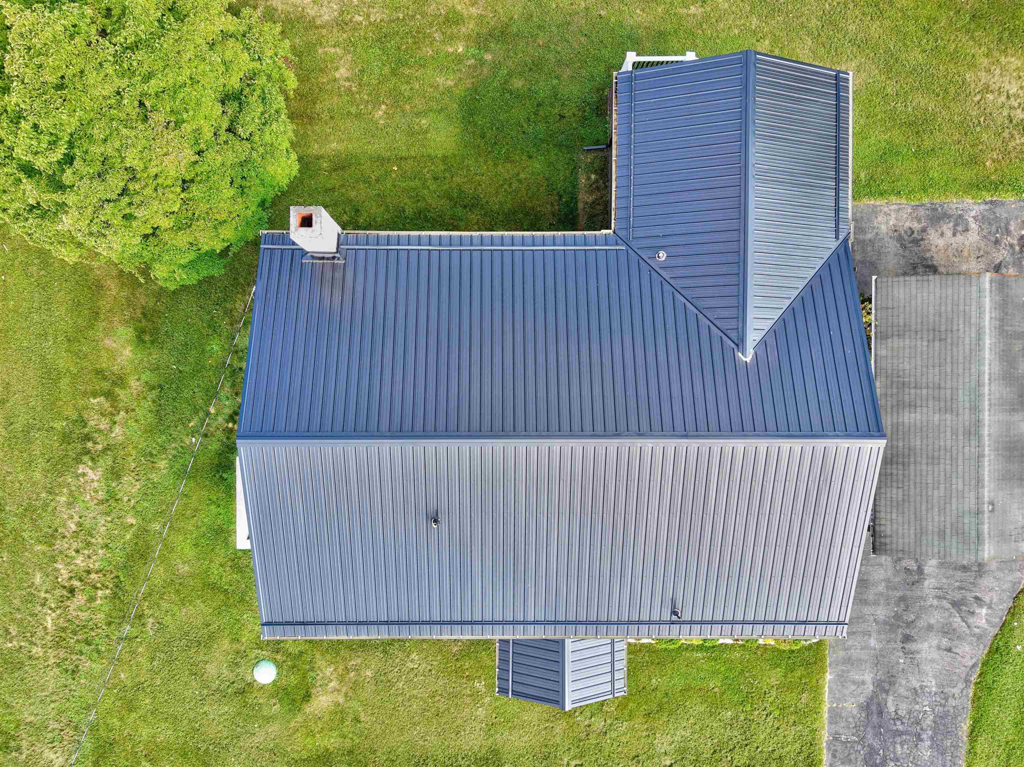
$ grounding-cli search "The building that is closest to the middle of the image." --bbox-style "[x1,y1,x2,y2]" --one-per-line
[237,50,885,711]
